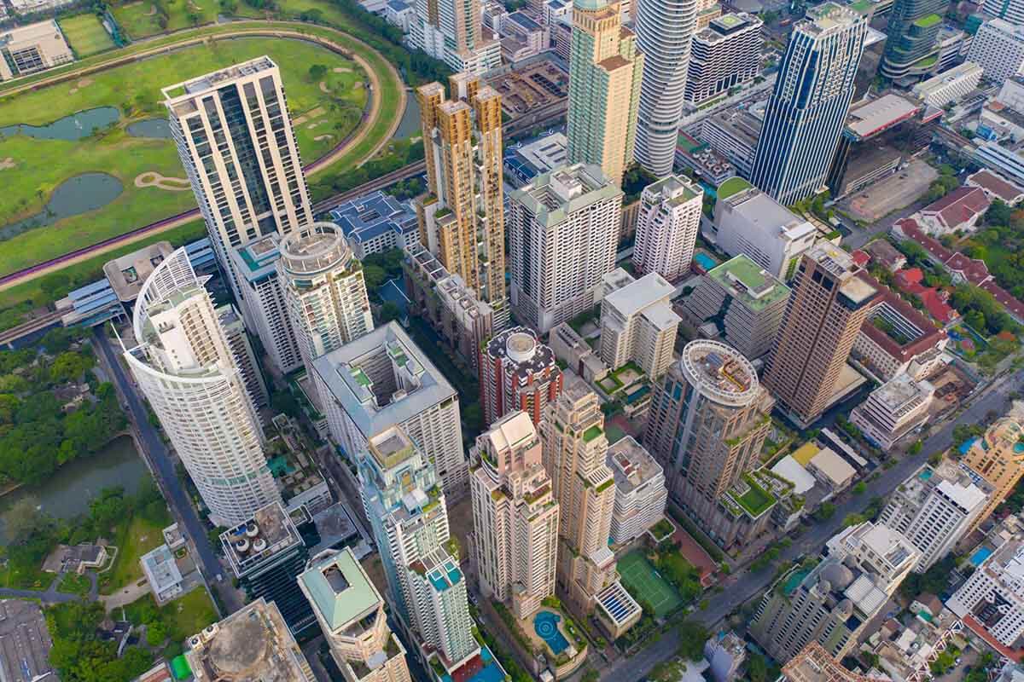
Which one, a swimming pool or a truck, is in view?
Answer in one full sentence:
I can see a swimming pool in this picture.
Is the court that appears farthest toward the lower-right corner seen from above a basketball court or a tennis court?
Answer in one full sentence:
The court that appears farthest toward the lower-right corner appears to be a tennis court.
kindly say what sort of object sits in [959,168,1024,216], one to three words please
house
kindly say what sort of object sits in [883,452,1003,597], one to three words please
building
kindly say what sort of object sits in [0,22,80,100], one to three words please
building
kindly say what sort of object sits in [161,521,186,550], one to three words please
house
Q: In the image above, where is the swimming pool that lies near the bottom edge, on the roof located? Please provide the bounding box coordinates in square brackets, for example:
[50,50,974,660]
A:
[534,611,569,655]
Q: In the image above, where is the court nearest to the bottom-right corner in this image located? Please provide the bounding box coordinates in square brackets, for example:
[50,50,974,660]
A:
[618,549,681,614]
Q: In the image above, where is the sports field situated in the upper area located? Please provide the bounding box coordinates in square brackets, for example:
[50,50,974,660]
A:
[59,15,114,57]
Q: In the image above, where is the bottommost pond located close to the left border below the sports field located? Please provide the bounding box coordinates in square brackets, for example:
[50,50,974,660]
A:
[0,172,124,241]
